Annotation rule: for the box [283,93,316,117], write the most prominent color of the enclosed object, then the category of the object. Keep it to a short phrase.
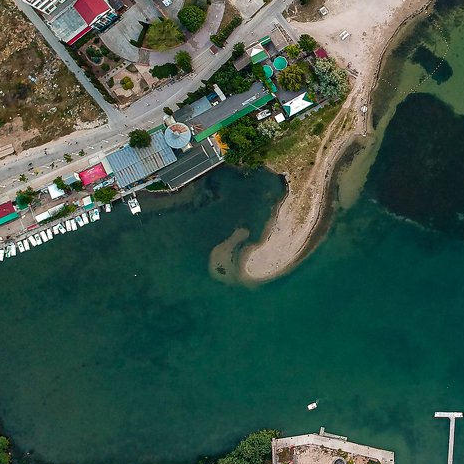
white tent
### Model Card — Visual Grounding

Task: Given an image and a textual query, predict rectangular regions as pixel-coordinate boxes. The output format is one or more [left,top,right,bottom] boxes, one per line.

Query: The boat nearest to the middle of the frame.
[127,196,142,217]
